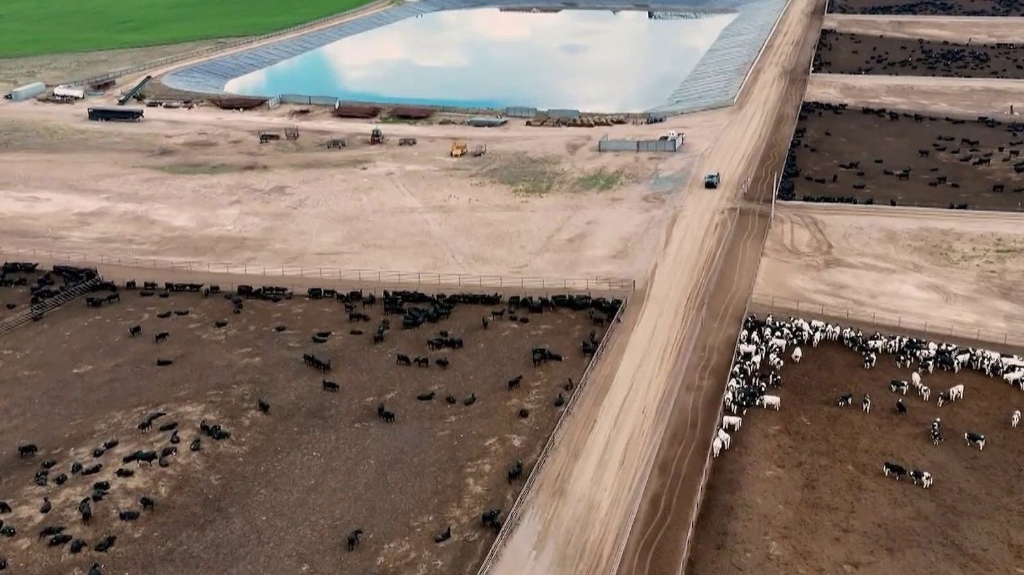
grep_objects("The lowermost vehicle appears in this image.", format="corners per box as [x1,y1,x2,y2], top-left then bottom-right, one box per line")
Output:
[705,171,720,188]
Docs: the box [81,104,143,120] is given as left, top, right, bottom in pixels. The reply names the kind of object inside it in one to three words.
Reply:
trailer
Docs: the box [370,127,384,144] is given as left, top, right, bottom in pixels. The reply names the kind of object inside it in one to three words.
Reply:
work vehicle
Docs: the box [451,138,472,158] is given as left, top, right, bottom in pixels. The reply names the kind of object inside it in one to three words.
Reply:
vehicle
